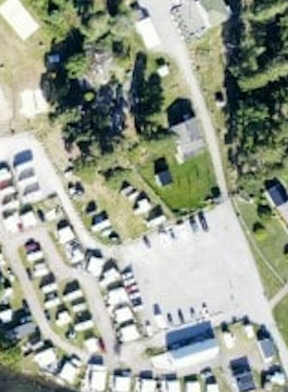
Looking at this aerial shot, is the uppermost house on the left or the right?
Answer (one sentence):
The uppermost house sits on the right side.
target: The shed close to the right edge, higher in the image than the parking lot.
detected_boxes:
[265,184,288,206]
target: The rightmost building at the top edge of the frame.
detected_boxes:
[189,0,230,27]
